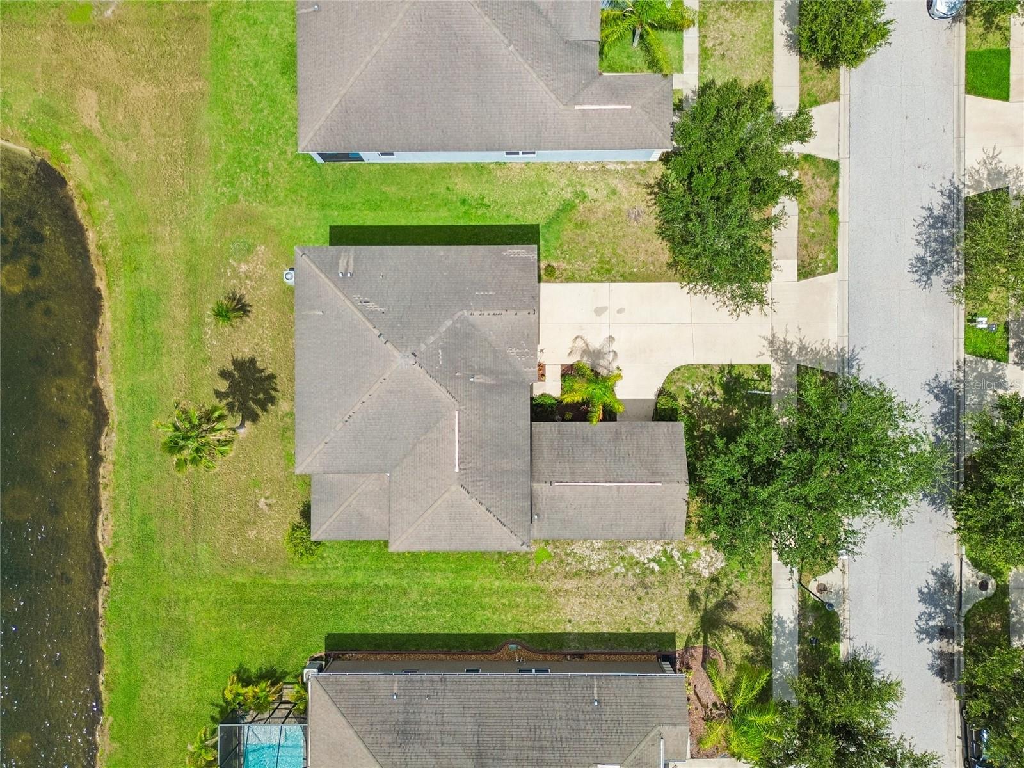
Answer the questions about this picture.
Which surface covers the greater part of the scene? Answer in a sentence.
The bulk of the photo consists of grass.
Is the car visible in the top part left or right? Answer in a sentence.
You can find the car visible in the top part on the right side of the picture.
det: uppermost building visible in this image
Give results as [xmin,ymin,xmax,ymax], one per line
[297,0,673,163]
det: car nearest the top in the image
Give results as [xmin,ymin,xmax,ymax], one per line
[924,0,961,23]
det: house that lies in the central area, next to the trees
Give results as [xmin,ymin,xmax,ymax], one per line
[294,244,691,553]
